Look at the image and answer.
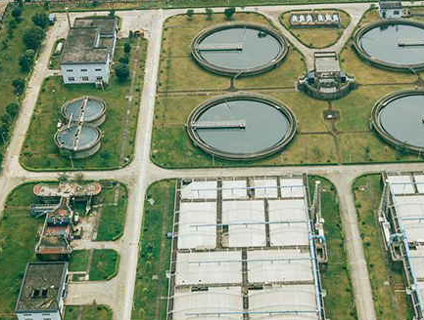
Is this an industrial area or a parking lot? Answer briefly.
industrial area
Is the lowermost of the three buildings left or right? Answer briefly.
left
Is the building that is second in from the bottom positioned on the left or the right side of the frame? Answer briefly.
left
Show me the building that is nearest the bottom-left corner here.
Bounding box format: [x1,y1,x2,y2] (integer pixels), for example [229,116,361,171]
[12,259,72,320]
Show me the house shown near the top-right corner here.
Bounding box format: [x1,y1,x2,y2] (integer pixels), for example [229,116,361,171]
[376,0,405,18]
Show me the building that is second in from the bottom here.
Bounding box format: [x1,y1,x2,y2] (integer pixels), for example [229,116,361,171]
[55,16,119,83]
